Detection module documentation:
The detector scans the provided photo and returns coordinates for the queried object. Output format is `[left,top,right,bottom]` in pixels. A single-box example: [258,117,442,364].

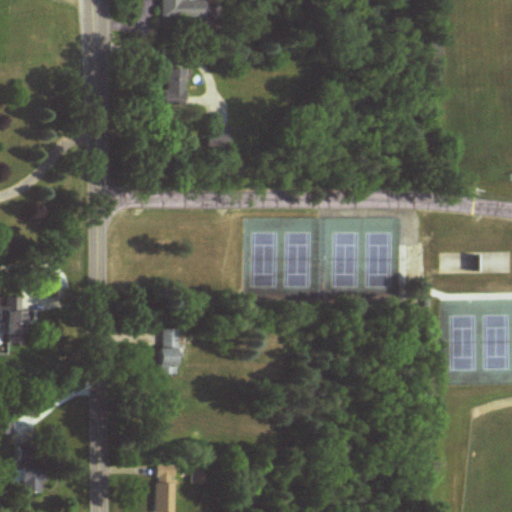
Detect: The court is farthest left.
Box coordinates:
[244,218,281,292]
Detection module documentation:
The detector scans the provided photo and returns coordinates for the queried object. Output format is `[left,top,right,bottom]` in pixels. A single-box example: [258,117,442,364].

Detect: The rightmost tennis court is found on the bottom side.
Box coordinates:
[479,301,512,385]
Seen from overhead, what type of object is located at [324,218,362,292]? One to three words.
tennis court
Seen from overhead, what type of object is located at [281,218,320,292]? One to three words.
tennis court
